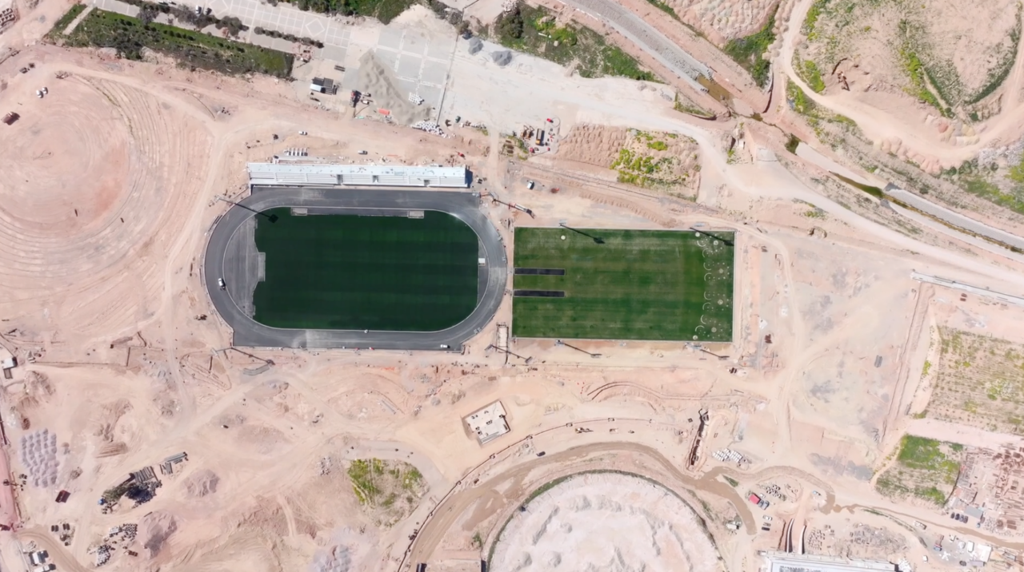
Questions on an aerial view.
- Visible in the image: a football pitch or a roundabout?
football pitch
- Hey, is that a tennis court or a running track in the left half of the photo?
running track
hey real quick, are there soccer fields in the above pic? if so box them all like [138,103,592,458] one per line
[253,207,478,331]
[511,226,735,343]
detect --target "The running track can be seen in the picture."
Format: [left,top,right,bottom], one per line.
[205,187,507,351]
